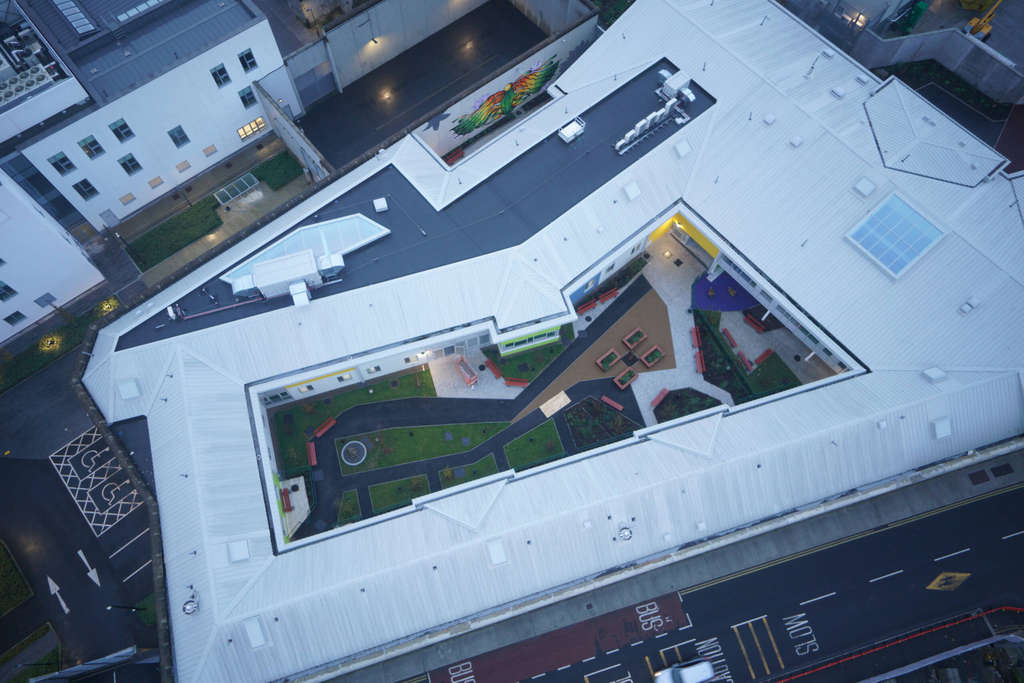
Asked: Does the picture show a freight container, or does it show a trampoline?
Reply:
freight container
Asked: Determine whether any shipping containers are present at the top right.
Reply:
Yes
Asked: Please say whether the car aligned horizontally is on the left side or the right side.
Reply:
right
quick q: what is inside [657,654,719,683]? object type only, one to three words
car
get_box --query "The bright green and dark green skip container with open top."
[892,1,929,38]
